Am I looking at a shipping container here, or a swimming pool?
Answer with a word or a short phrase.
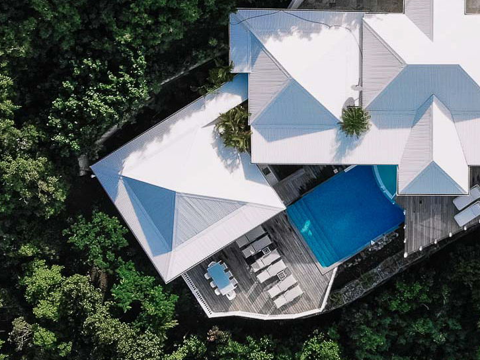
swimming pool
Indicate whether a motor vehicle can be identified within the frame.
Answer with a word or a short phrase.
No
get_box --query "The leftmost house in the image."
[88,72,288,283]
